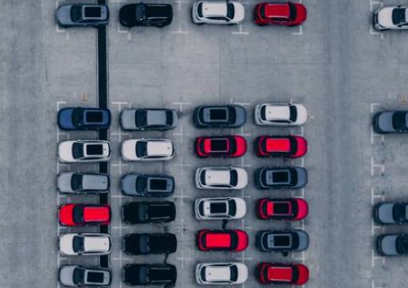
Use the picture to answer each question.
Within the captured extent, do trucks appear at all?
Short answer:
No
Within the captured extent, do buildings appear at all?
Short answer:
No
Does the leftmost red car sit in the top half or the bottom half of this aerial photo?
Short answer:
bottom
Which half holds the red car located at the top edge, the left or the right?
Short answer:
right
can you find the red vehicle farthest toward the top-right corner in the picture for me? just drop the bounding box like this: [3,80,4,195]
[253,0,308,27]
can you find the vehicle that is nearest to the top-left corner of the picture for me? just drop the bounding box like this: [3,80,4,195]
[54,1,109,28]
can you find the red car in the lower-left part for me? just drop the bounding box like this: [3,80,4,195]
[57,202,112,229]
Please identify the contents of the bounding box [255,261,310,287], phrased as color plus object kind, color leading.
red car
